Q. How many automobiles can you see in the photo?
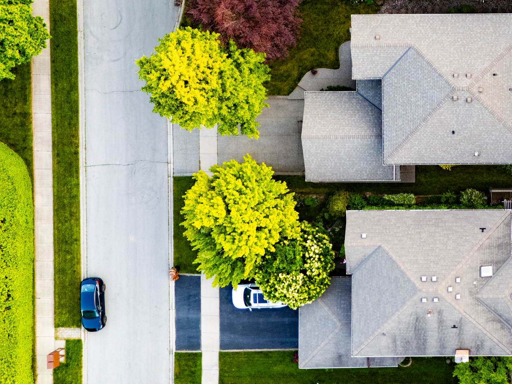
two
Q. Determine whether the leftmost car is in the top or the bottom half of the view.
bottom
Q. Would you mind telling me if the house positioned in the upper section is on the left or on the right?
right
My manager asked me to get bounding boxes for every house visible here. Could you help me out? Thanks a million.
[302,12,512,183]
[298,205,512,370]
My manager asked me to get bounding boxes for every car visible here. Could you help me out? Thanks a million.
[233,283,289,311]
[79,275,110,329]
